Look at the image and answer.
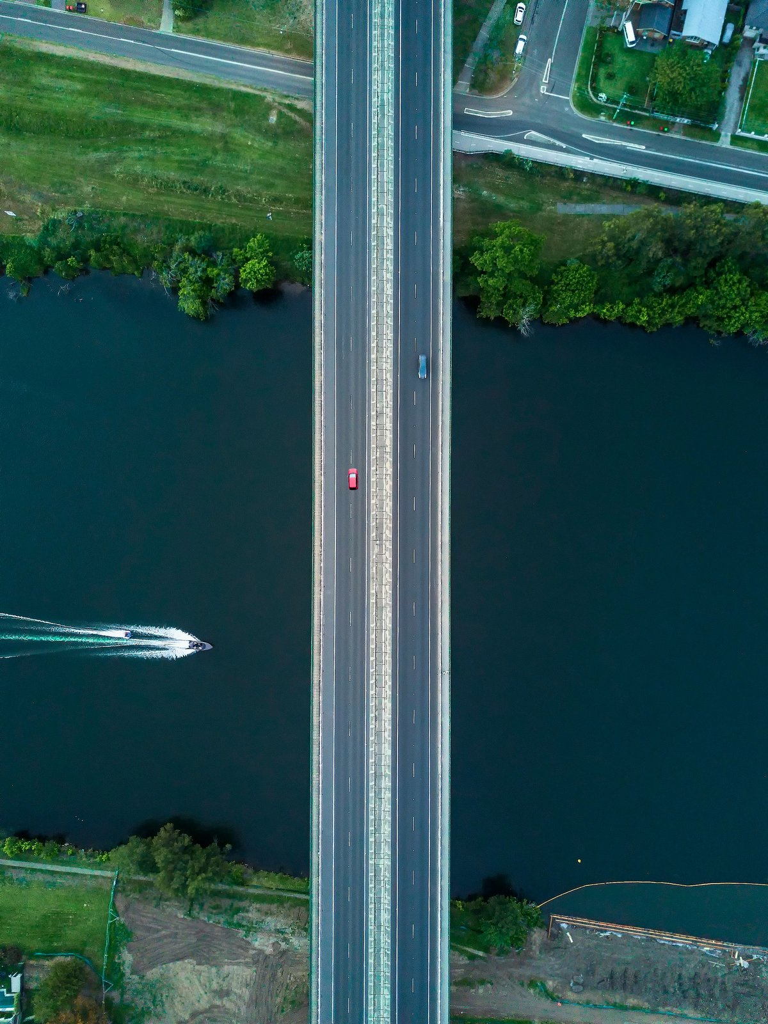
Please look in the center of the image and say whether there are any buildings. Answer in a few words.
No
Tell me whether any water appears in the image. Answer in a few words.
Yes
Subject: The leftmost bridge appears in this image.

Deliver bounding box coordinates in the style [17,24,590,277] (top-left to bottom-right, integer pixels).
[310,0,453,1024]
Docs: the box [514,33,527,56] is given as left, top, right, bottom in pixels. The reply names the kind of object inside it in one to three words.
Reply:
vehicle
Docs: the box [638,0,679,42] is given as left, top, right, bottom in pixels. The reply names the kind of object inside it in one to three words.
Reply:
house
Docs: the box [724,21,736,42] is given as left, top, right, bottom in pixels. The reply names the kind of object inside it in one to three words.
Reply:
vehicle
